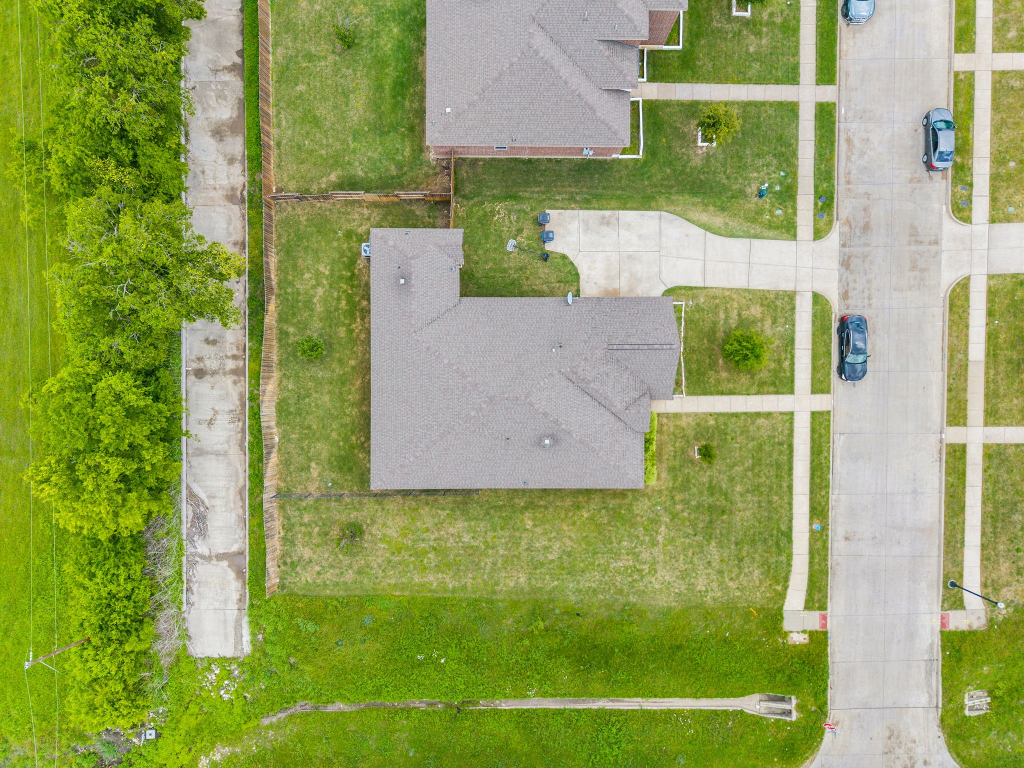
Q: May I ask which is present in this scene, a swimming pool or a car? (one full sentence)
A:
Looking from above, you can make out a car.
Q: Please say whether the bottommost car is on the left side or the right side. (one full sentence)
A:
The bottommost car is on the right side of the image.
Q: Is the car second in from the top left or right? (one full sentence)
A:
The car second in from the top sits on the right side.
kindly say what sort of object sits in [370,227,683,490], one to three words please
house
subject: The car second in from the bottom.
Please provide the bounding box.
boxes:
[921,109,959,173]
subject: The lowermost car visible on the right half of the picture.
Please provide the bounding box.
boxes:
[835,314,871,381]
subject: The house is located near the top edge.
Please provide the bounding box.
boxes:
[425,0,688,157]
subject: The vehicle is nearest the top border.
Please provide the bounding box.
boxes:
[841,0,876,27]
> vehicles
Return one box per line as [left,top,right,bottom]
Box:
[921,109,959,173]
[841,0,876,27]
[835,314,871,381]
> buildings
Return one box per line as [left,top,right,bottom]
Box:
[370,227,683,490]
[425,0,688,157]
